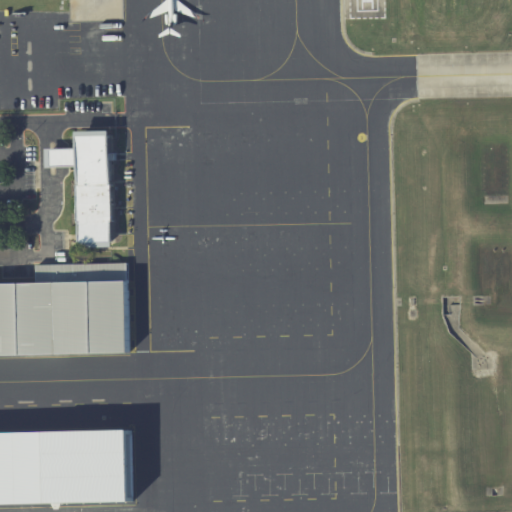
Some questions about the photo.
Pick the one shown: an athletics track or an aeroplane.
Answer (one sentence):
The image shows an aeroplane.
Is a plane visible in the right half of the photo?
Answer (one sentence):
No, no plane is visible in the right half of the photo.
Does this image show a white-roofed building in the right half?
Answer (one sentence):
No, no white-roofed building can be made out in the right half.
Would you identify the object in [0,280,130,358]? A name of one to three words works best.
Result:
hangar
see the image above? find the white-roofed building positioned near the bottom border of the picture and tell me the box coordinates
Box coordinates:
[0,429,134,510]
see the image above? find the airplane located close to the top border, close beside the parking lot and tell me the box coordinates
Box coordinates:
[141,0,202,38]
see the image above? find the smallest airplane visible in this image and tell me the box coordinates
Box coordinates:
[152,228,176,244]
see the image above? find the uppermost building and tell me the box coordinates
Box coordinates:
[43,130,118,250]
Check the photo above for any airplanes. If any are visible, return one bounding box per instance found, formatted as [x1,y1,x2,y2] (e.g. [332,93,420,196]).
[141,0,202,38]
[152,228,176,244]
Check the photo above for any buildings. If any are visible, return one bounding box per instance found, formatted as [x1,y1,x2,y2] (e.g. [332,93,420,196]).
[0,280,130,358]
[0,429,134,510]
[43,130,118,250]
